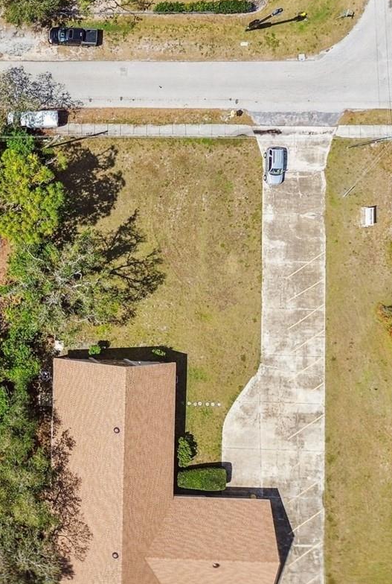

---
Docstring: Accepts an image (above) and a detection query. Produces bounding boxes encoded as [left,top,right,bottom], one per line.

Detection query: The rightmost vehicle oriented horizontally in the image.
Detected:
[49,26,98,45]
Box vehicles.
[264,147,285,185]
[7,109,59,128]
[49,26,98,45]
